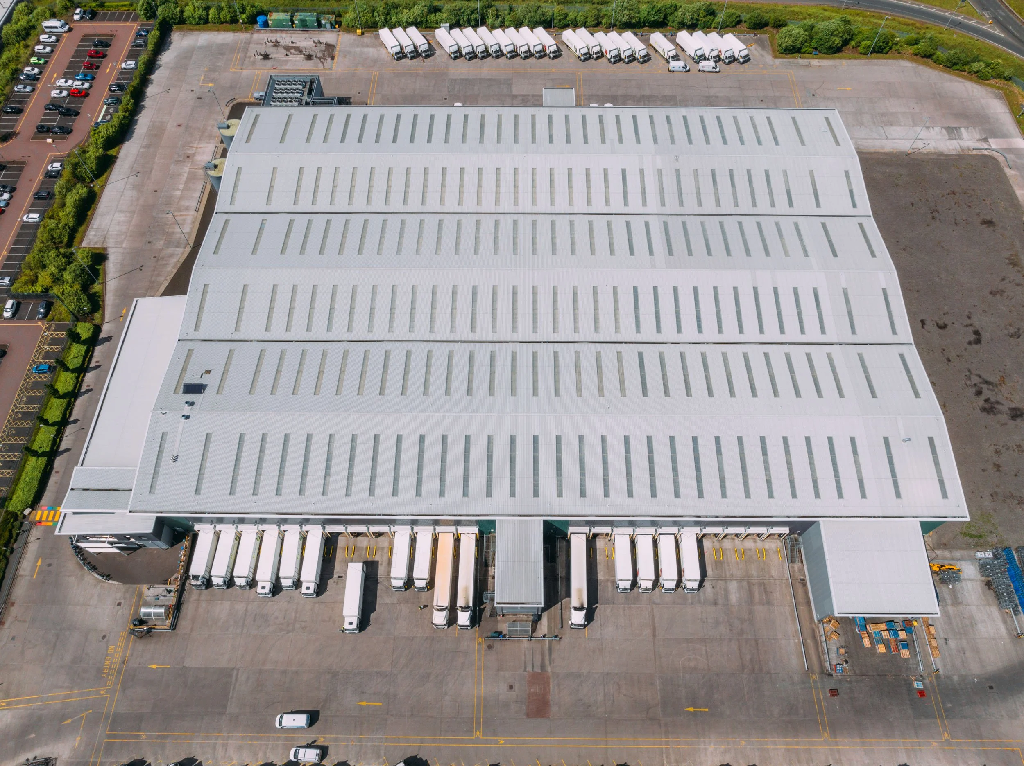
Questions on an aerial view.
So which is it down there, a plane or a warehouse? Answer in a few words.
warehouse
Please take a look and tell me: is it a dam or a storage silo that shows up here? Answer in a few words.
storage silo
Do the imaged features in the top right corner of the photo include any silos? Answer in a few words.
No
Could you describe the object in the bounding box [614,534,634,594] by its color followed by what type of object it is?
white vehicle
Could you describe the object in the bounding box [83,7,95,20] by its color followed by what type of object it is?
black vehicle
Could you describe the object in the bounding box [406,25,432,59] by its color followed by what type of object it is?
white truck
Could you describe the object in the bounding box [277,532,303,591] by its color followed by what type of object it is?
white truck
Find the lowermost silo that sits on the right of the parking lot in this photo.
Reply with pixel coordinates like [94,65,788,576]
[204,159,226,195]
